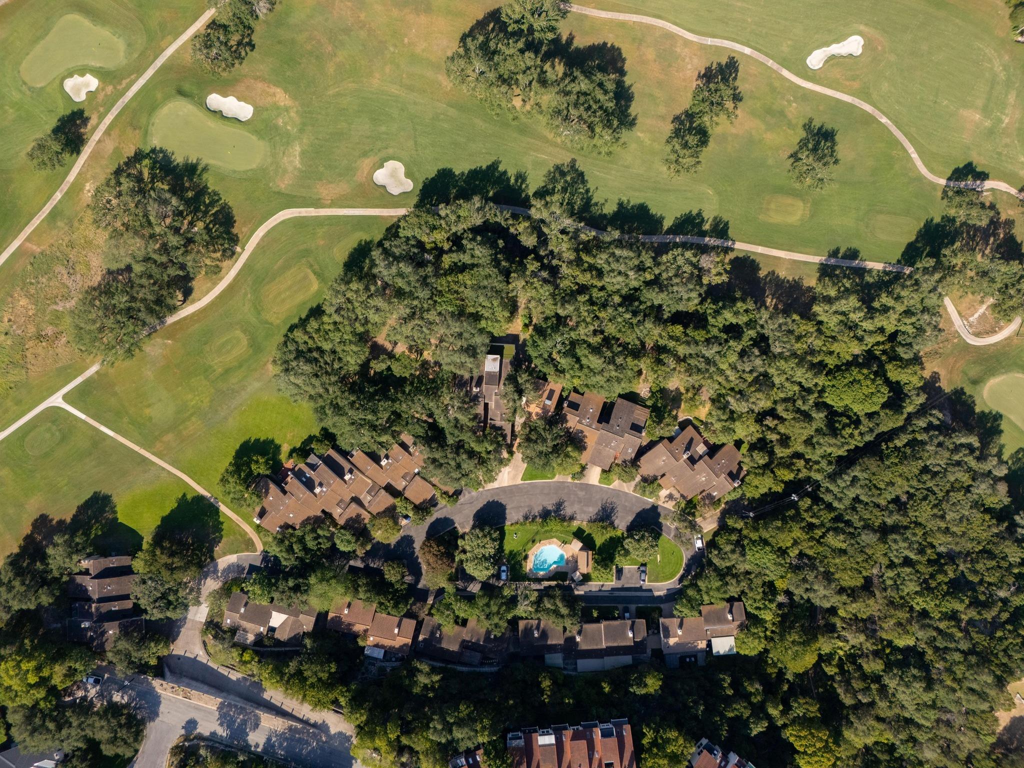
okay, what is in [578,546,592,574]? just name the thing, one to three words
building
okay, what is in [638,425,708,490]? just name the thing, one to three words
house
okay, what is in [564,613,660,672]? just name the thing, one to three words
house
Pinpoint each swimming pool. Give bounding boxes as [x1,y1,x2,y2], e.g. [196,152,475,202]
[527,539,578,580]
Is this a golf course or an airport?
golf course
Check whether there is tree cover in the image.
Yes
